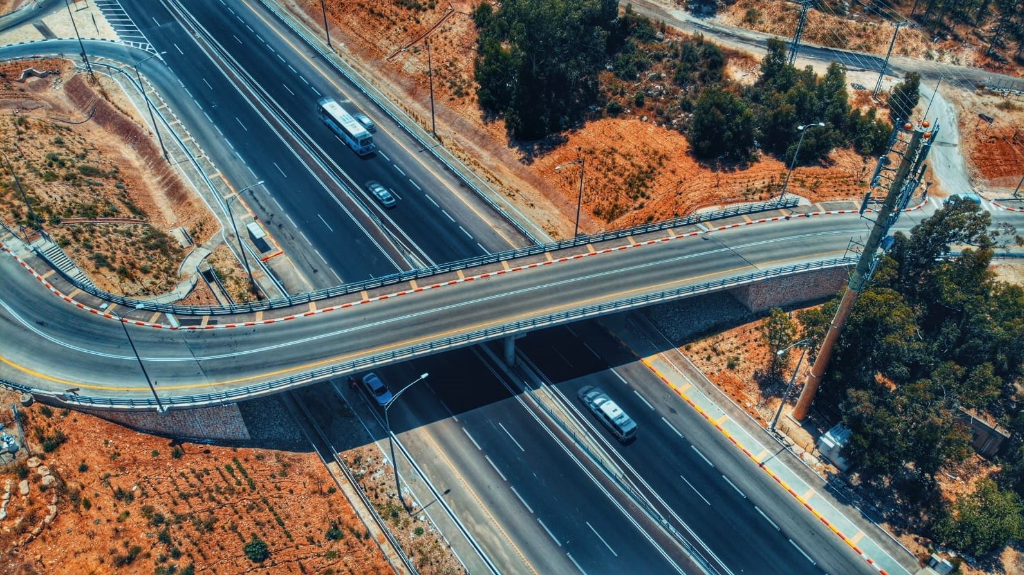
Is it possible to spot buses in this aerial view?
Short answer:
Yes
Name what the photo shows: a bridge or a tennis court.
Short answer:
bridge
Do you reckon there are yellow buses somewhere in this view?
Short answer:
No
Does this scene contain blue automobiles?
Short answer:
Yes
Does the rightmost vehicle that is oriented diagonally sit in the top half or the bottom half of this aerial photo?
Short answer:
bottom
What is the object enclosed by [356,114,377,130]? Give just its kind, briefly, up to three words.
car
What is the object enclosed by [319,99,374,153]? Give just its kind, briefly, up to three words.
bus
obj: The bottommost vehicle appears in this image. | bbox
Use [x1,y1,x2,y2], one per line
[581,395,634,444]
